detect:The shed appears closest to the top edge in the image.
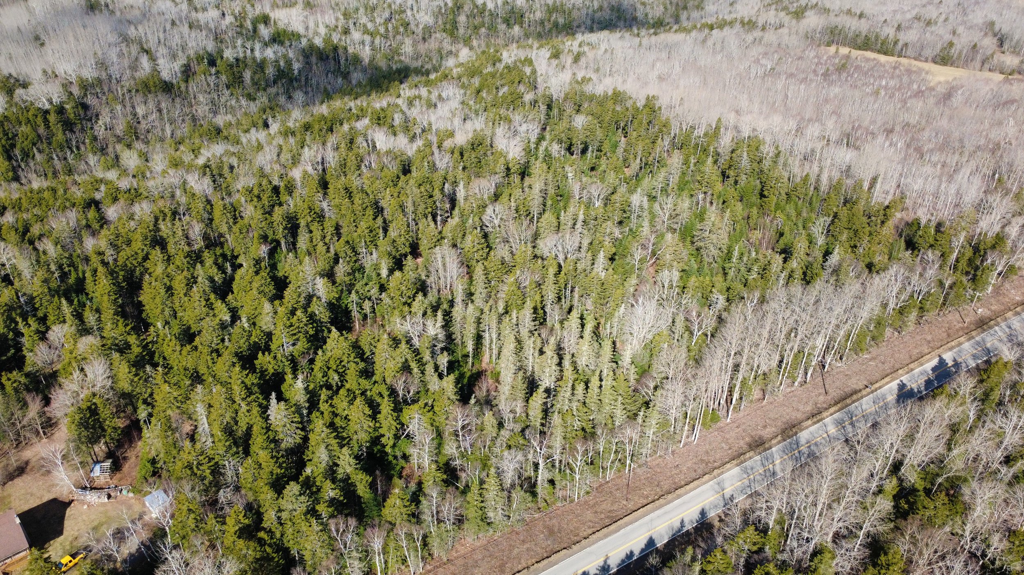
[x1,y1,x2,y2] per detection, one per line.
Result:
[87,459,119,481]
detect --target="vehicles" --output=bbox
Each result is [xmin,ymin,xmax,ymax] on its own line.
[49,550,86,574]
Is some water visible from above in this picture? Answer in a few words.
No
